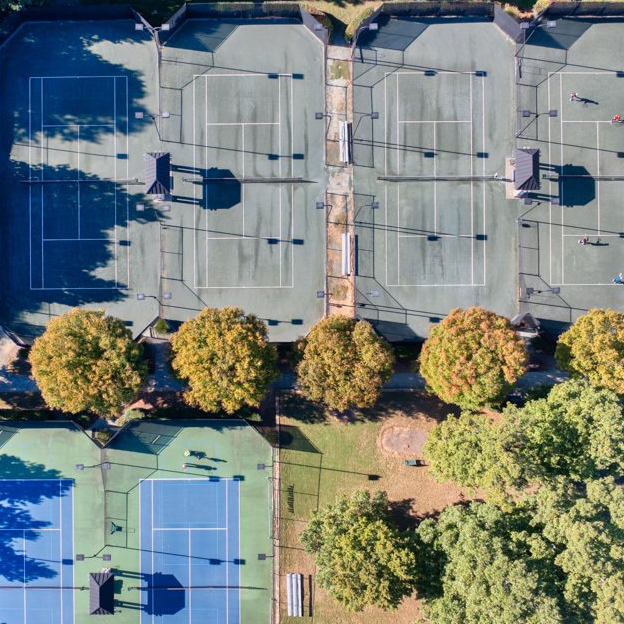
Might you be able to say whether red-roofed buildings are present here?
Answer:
No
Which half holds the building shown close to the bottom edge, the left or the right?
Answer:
left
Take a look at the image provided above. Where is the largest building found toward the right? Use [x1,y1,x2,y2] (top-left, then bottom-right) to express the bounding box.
[505,148,541,200]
